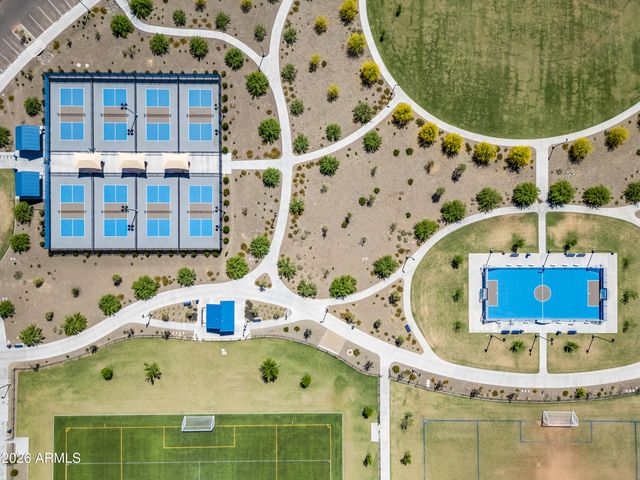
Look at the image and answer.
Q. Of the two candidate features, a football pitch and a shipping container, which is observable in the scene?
football pitch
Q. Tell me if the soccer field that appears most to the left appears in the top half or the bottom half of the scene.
bottom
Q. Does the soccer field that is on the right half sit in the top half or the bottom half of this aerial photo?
bottom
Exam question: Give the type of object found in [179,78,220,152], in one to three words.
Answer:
sports court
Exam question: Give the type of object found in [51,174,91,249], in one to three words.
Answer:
sports court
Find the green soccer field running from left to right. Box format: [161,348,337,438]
[53,412,344,480]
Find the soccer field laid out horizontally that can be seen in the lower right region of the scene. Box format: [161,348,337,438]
[423,420,640,480]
